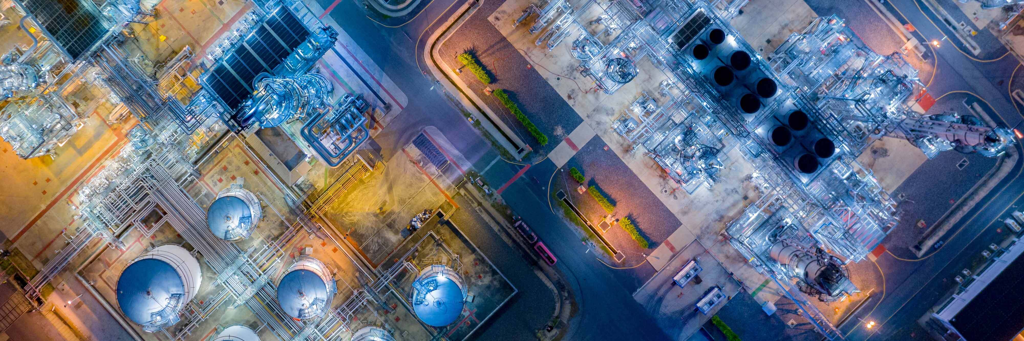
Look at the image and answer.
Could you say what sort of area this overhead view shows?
industrial area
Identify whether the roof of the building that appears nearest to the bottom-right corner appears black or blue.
black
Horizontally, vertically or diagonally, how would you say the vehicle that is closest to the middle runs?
diagonally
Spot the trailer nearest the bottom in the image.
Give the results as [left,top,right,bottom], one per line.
[691,281,728,318]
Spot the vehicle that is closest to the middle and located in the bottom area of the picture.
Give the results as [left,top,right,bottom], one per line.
[515,221,538,245]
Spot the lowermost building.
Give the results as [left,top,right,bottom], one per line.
[935,232,1024,341]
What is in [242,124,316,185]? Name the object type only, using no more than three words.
shed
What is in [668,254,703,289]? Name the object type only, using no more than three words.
trailer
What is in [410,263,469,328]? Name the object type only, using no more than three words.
storage tank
